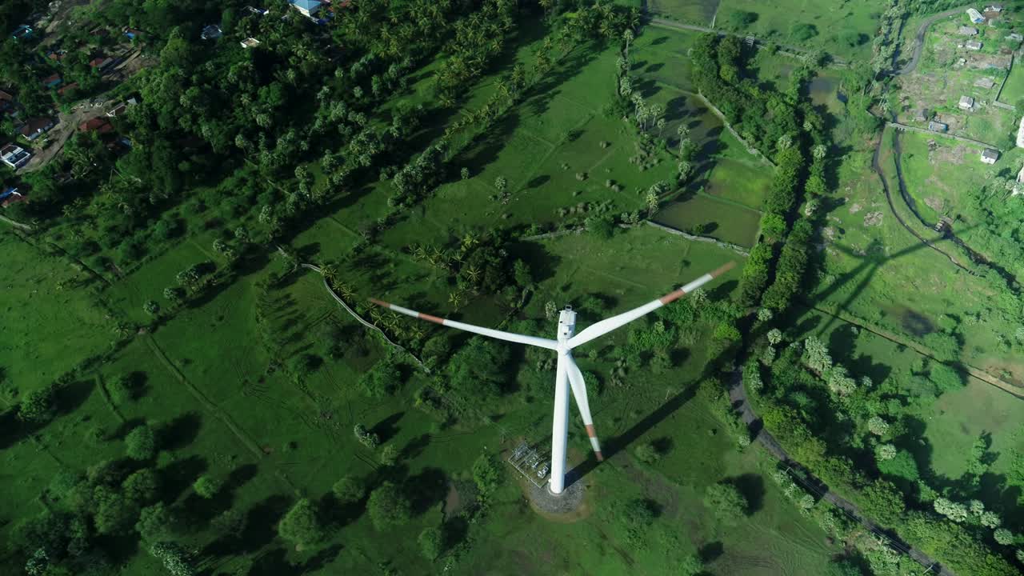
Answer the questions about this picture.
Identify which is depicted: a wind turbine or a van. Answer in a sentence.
It is a wind turbine that can be seen here.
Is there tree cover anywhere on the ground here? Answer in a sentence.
Yes, there is tree cover in the image.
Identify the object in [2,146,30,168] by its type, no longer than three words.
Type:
house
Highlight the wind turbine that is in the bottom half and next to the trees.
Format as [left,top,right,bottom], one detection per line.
[369,267,735,500]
